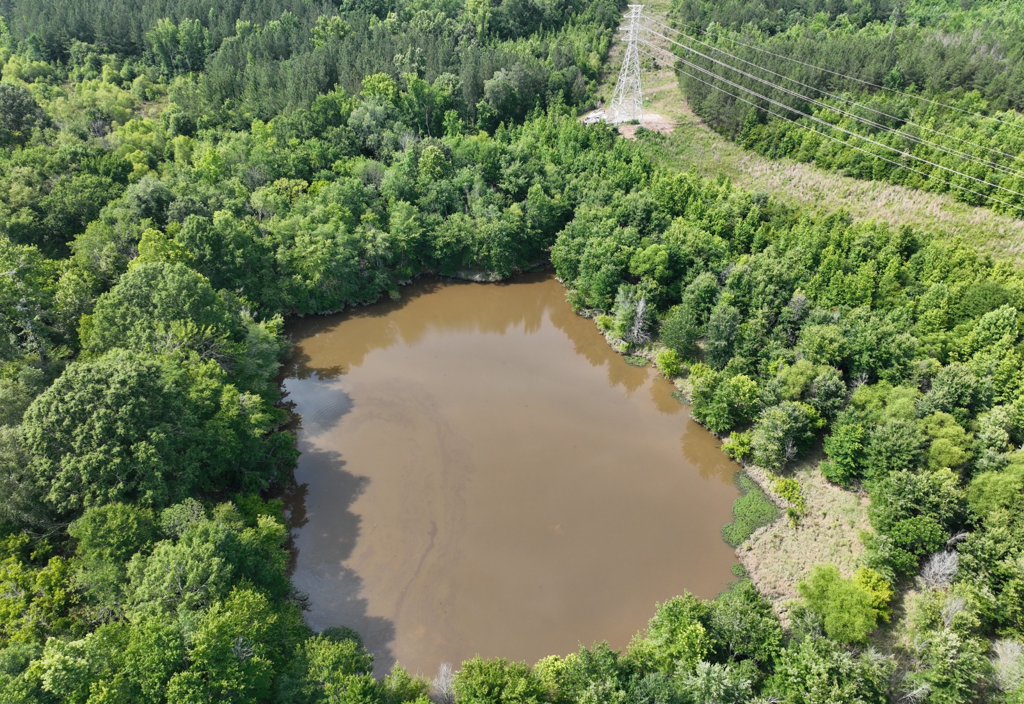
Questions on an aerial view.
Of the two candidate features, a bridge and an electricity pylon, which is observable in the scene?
electricity pylon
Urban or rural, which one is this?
rural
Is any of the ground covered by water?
Yes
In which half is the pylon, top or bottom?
top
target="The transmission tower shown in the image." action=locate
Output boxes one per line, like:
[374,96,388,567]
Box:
[605,5,655,126]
